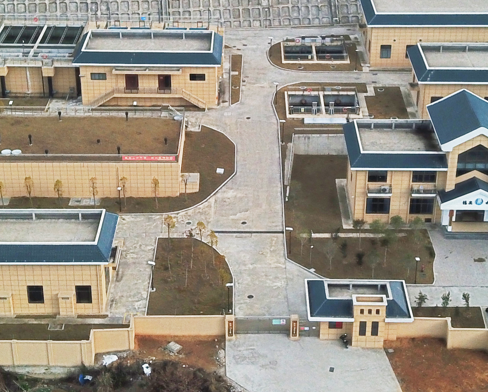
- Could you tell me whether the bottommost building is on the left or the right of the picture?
right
